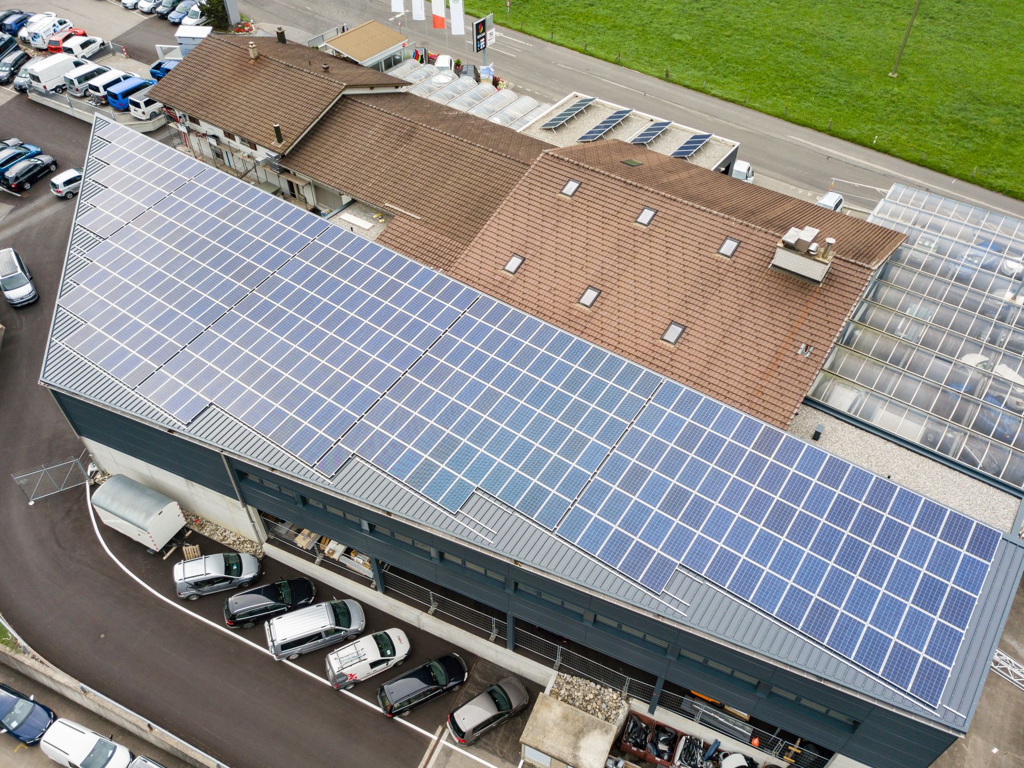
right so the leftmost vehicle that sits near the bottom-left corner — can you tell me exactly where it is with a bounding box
[0,673,60,760]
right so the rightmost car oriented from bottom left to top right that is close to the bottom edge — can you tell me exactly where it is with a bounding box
[436,671,535,752]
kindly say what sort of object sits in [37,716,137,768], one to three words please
car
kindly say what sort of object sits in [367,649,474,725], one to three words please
car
